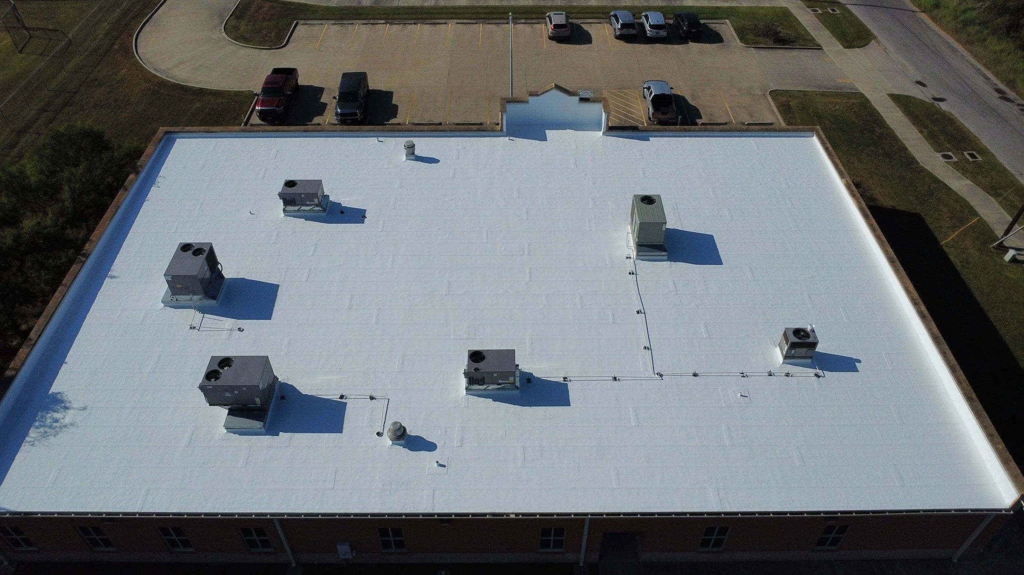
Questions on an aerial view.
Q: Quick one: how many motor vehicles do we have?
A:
7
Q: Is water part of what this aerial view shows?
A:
No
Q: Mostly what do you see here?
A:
buildings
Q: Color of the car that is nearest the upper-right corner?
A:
black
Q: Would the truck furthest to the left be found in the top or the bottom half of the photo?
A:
top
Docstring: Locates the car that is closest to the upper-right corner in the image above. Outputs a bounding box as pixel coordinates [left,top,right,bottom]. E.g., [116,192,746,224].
[671,7,705,35]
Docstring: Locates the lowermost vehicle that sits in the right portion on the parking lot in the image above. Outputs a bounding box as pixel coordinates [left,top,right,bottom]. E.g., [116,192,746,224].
[640,73,678,122]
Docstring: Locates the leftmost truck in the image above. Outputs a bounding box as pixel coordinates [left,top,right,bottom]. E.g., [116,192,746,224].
[253,65,301,118]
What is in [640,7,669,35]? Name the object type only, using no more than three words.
car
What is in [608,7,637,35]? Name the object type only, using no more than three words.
car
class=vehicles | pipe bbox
[545,8,571,36]
[640,7,669,35]
[330,72,371,124]
[640,73,678,122]
[253,65,301,118]
[608,7,637,35]
[671,7,705,35]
